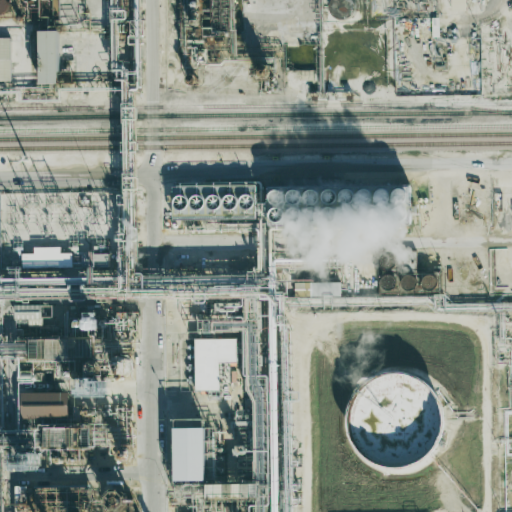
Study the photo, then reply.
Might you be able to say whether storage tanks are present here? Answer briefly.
Yes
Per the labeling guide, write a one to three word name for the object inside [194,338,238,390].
building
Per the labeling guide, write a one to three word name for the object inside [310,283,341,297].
shed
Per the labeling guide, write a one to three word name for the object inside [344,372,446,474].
storage tank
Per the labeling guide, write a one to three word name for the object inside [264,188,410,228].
cooling tower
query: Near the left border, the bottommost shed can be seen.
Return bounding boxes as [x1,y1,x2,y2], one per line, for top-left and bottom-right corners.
[20,392,68,419]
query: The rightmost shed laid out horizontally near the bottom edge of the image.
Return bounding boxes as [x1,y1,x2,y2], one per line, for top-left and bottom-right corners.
[204,484,248,496]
